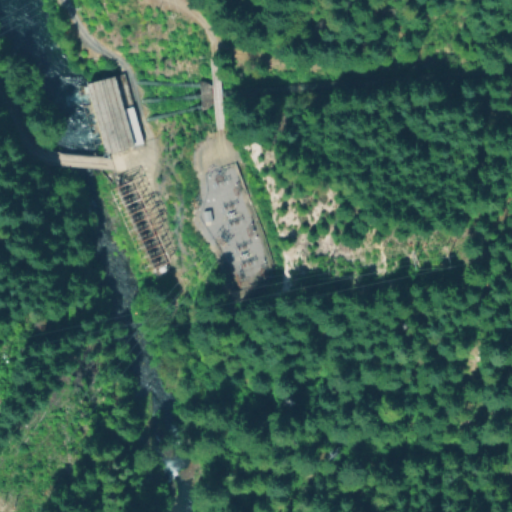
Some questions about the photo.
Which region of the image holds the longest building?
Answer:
top left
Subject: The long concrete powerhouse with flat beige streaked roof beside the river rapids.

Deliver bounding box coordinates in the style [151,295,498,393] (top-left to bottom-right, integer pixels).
[85,77,134,156]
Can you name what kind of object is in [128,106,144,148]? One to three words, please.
building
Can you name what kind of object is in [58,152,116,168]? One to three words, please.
bridge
